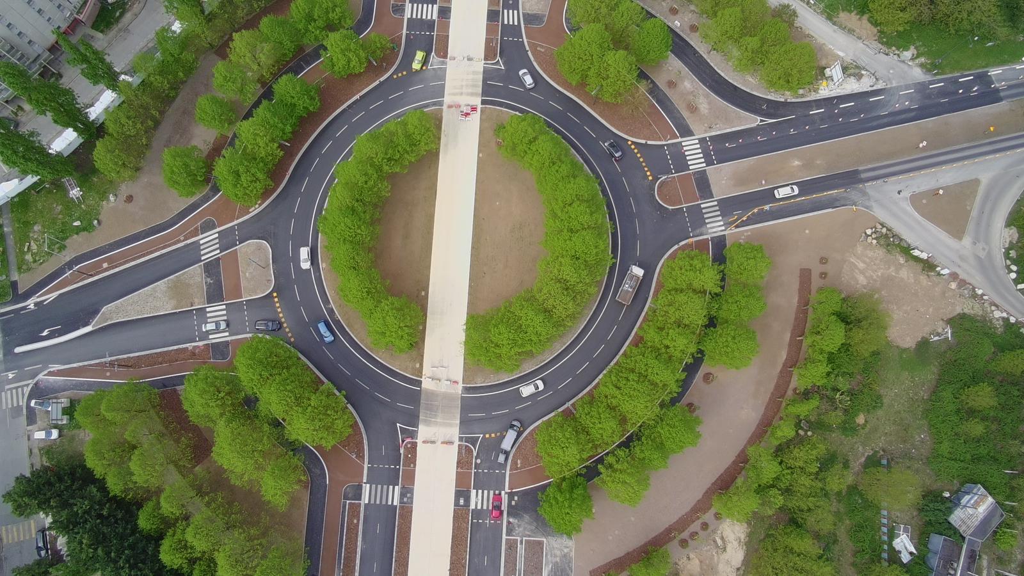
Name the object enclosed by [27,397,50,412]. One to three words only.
car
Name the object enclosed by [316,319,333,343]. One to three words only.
car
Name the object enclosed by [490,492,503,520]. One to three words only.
vehicle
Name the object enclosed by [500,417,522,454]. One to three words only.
vehicle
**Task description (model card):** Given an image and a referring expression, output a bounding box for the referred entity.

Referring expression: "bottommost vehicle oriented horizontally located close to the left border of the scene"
[29,428,57,441]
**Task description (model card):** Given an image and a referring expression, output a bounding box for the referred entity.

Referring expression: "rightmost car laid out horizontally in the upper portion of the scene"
[774,183,799,197]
